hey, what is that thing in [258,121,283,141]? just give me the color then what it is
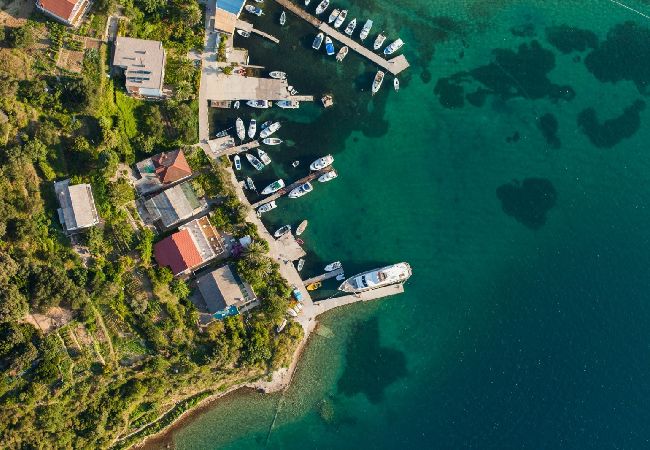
white boat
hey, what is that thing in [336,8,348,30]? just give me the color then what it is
white boat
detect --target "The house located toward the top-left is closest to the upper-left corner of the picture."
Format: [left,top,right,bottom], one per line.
[35,0,102,31]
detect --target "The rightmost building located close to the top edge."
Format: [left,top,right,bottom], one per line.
[214,0,248,36]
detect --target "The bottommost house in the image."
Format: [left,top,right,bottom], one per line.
[187,261,259,322]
